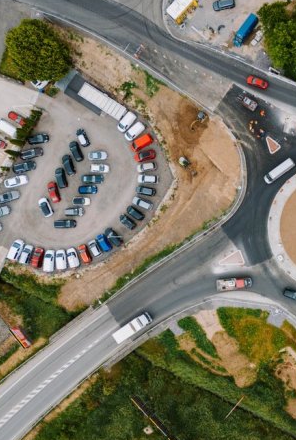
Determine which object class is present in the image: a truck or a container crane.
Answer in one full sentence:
It is a truck that can be seen here.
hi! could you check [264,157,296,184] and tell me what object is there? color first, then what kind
white vehicle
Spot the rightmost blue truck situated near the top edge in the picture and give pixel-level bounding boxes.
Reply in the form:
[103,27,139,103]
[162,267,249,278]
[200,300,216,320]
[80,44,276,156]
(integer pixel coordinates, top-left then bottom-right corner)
[232,11,260,51]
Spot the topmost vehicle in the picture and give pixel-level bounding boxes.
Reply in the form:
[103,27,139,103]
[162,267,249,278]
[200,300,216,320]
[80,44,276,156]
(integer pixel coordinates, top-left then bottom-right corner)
[213,0,236,12]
